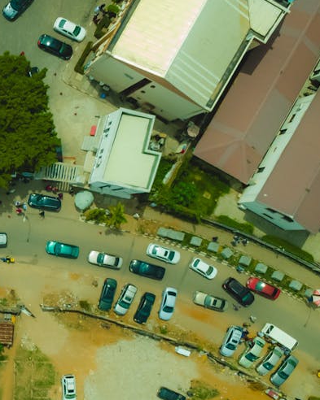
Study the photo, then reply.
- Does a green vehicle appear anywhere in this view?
Yes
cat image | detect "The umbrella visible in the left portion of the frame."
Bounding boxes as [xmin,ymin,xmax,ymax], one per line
[74,190,94,210]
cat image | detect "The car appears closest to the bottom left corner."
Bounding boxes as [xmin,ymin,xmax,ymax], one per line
[60,373,78,400]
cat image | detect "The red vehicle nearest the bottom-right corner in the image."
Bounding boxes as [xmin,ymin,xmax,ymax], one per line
[243,276,282,301]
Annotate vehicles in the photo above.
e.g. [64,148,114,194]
[3,0,29,21]
[154,385,188,400]
[259,322,304,353]
[186,255,218,280]
[127,260,169,279]
[269,353,299,388]
[254,344,284,377]
[190,292,228,311]
[133,290,155,325]
[144,245,181,264]
[60,373,78,400]
[36,31,73,61]
[45,241,80,258]
[98,277,118,312]
[26,192,63,211]
[86,251,123,268]
[157,286,177,321]
[243,276,282,301]
[217,324,245,357]
[238,335,265,369]
[51,16,87,43]
[218,276,257,307]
